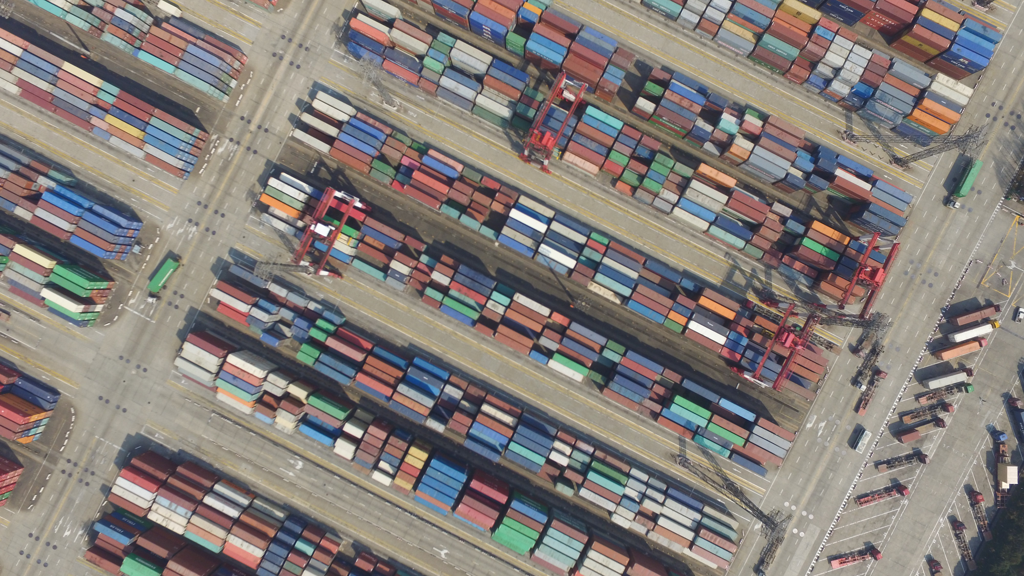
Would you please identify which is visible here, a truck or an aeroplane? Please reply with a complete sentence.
There is a truck in the scene.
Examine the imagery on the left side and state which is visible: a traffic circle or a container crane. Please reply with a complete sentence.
Looking on the left side, you will find a container crane.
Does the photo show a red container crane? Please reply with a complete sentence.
Yes, there's a red container crane here.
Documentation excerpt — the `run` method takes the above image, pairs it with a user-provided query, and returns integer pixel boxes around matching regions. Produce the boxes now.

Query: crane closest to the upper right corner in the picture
[806,233,904,321]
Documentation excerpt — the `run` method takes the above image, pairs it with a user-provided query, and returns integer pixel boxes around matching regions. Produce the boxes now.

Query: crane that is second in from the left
[516,72,585,172]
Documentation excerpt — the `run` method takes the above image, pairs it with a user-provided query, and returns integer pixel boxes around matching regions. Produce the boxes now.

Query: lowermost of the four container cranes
[727,300,817,390]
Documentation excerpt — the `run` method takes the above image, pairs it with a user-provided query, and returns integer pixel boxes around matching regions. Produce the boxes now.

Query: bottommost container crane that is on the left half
[289,185,375,277]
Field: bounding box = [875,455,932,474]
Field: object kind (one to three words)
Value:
vehicle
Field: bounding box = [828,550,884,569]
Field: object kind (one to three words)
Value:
vehicle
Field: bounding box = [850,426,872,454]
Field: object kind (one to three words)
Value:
bus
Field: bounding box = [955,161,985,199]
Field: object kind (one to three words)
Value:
shipping container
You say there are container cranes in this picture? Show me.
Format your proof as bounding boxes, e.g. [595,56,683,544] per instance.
[806,233,904,321]
[516,72,585,172]
[289,185,375,277]
[727,300,817,390]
